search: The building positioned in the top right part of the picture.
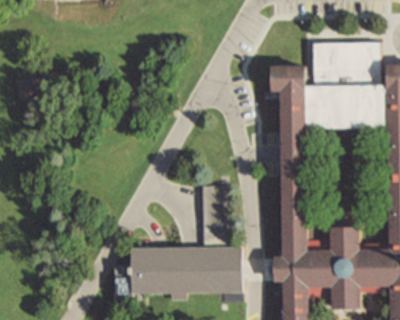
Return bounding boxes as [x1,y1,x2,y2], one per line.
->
[306,42,388,132]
